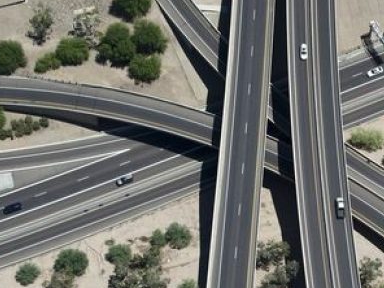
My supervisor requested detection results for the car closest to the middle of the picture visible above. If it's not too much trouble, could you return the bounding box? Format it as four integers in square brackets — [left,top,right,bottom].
[115,174,134,186]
